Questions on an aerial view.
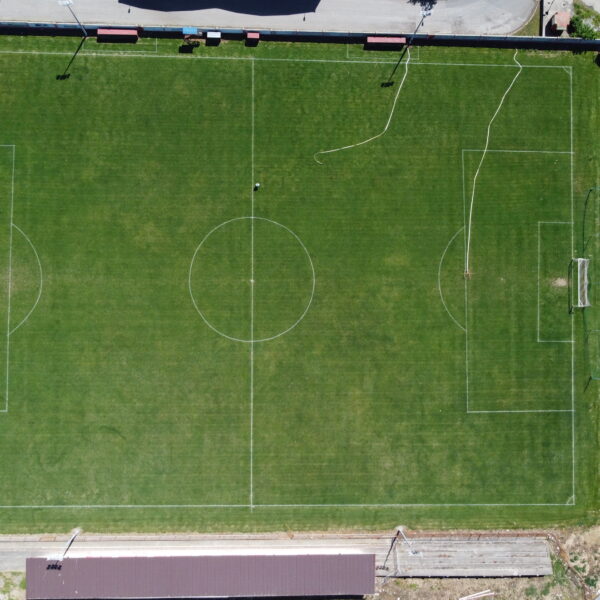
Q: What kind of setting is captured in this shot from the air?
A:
sports ground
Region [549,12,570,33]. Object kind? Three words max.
shed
